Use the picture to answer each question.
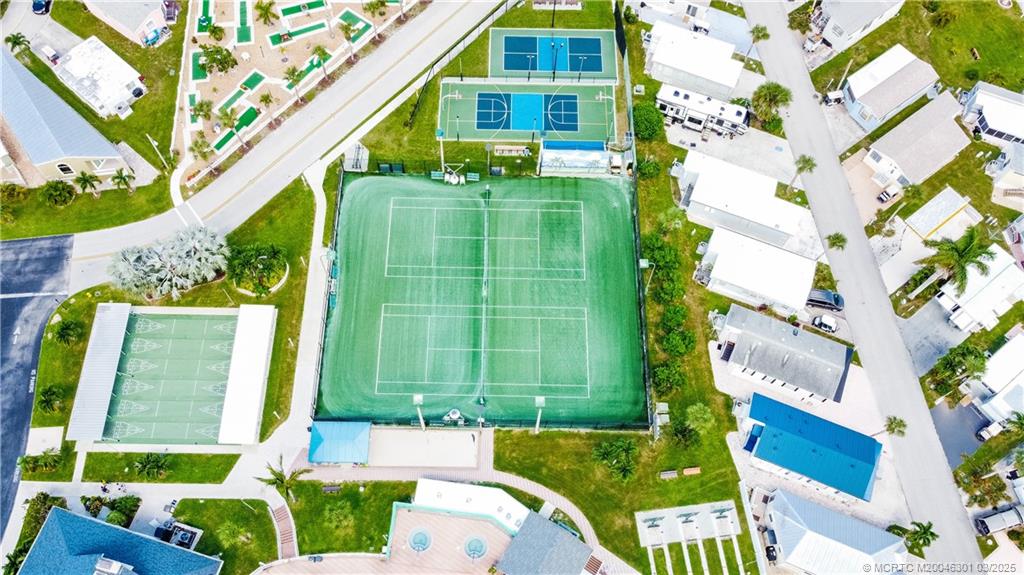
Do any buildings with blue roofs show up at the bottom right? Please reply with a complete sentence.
Yes, a building with a blue roof shows up at the bottom right.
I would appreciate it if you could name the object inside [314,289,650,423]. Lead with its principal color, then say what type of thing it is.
green tennis court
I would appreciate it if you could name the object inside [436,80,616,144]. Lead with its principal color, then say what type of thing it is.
green basketball court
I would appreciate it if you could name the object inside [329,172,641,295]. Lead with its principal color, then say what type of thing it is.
green tennis court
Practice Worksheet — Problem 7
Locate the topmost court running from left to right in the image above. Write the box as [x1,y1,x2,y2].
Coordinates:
[488,27,618,82]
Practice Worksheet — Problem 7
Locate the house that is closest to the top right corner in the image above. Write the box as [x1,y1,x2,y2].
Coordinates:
[966,81,1024,154]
